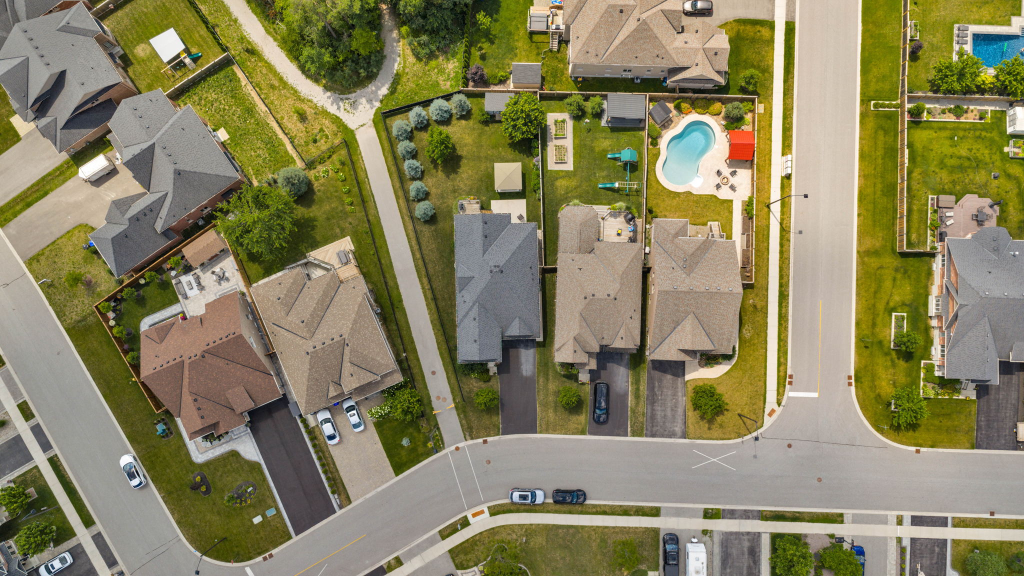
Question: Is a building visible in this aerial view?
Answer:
Yes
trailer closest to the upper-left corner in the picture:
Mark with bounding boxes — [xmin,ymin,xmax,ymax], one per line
[74,150,118,183]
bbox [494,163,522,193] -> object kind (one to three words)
gazebo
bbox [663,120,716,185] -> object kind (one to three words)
swimming pool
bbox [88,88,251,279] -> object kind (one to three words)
house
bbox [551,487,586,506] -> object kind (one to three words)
car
